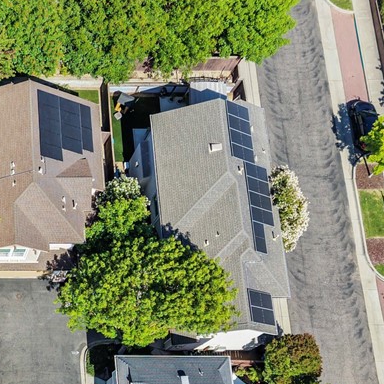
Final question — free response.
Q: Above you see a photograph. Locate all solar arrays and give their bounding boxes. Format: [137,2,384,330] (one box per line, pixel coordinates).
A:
[249,289,276,325]
[38,88,94,160]
[228,100,275,253]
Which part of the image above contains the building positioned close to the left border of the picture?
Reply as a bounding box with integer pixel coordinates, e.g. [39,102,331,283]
[0,79,106,283]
